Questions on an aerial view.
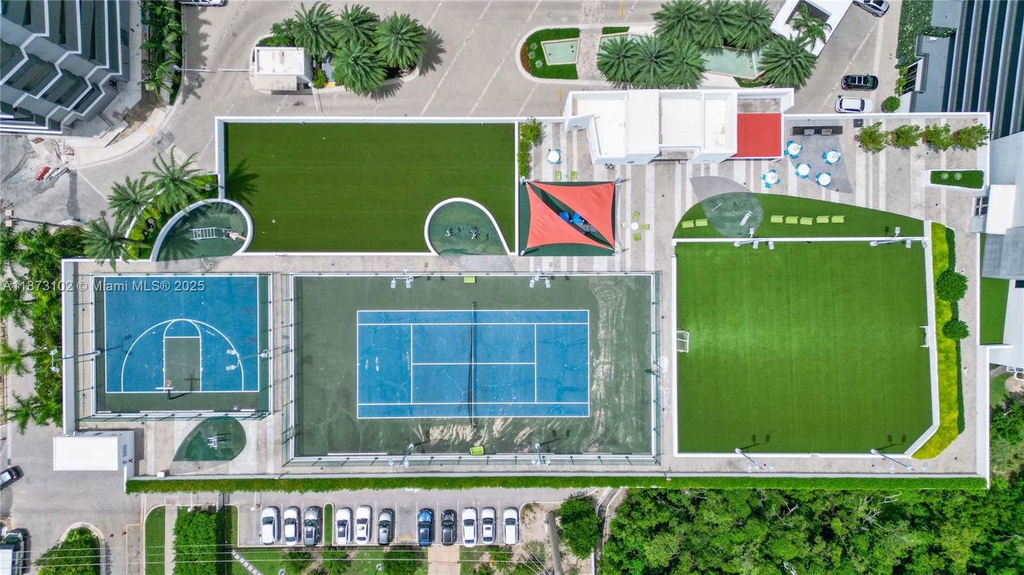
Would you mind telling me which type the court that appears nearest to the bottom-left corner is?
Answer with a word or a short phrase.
basketball court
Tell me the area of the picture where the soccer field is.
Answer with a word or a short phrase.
right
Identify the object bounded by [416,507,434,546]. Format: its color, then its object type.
blue car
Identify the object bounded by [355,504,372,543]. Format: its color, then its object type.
white car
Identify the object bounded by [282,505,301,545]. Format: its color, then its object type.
white car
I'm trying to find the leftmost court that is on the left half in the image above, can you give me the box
[92,274,269,417]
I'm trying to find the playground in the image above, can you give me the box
[519,181,615,256]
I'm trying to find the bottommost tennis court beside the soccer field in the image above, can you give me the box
[291,275,656,459]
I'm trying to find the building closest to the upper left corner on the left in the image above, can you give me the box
[0,0,131,137]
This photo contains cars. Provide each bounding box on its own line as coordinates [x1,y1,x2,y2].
[377,508,394,545]
[282,505,301,545]
[302,506,321,545]
[502,506,519,543]
[461,506,478,546]
[0,464,24,490]
[480,505,497,543]
[852,0,890,19]
[832,95,872,114]
[416,507,434,546]
[335,507,353,545]
[838,73,877,92]
[261,505,280,544]
[439,509,456,546]
[355,504,372,543]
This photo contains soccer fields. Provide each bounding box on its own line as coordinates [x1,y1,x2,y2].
[676,242,933,455]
